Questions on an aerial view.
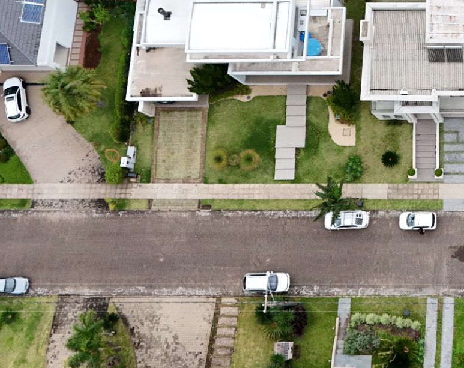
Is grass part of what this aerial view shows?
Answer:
Yes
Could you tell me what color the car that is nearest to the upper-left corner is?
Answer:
white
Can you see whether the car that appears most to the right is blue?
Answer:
No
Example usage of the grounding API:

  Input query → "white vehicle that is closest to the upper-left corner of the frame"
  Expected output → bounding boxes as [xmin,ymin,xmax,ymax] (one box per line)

[2,80,28,120]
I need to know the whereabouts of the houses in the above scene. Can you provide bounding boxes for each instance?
[358,0,464,123]
[126,0,348,116]
[0,0,73,80]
